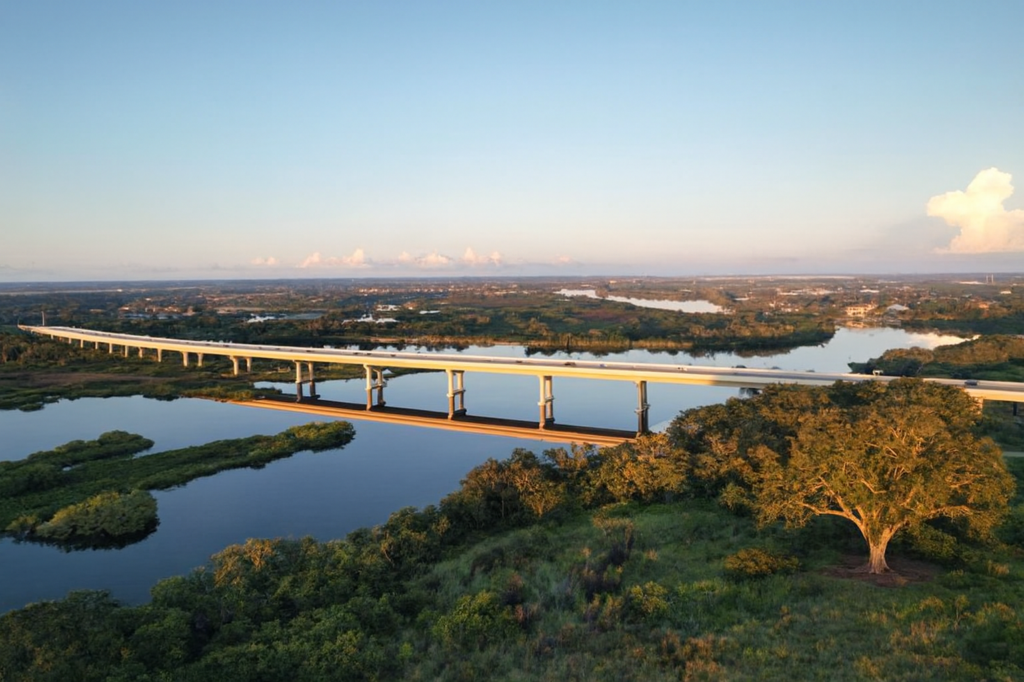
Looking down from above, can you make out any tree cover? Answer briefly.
Yes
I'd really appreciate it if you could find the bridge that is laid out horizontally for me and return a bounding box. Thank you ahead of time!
[23,326,1024,410]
